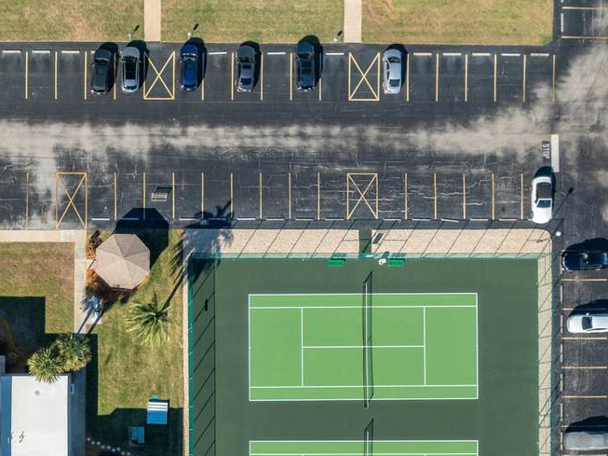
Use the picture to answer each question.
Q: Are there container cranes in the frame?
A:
No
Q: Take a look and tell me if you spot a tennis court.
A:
Yes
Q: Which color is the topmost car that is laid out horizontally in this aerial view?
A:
black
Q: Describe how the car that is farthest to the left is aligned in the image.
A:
from top to bottom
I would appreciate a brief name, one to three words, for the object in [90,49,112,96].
car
